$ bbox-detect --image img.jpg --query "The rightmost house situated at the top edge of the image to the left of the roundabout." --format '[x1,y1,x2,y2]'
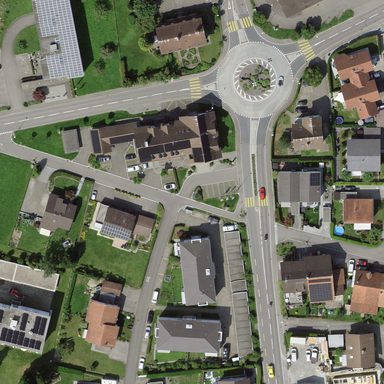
[154,16,206,54]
